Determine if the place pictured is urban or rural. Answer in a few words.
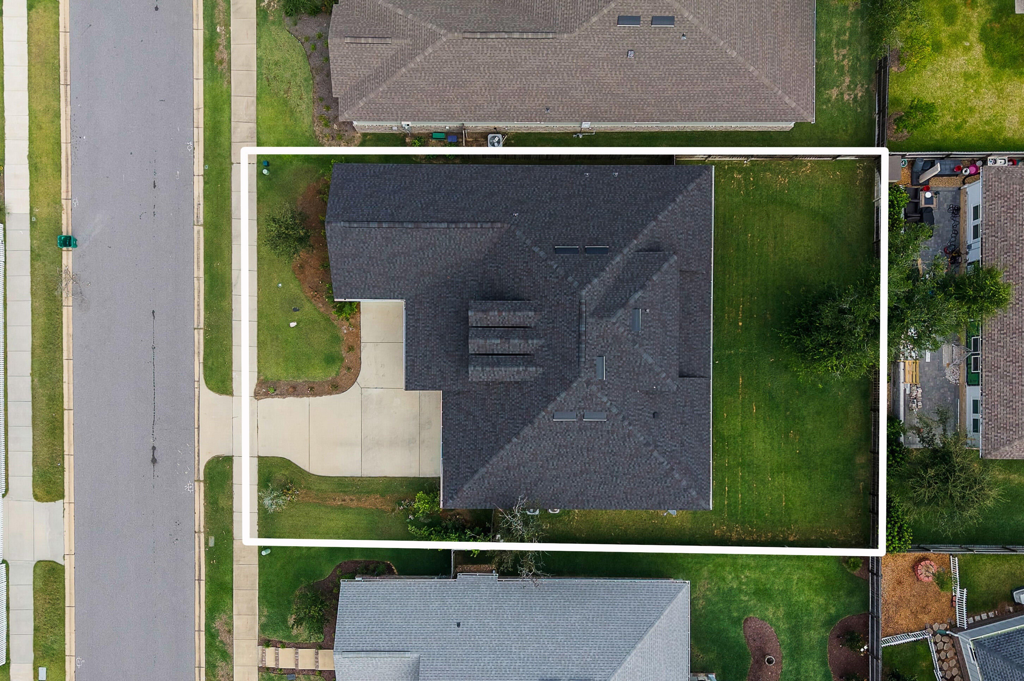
urban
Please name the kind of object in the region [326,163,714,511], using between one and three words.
house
